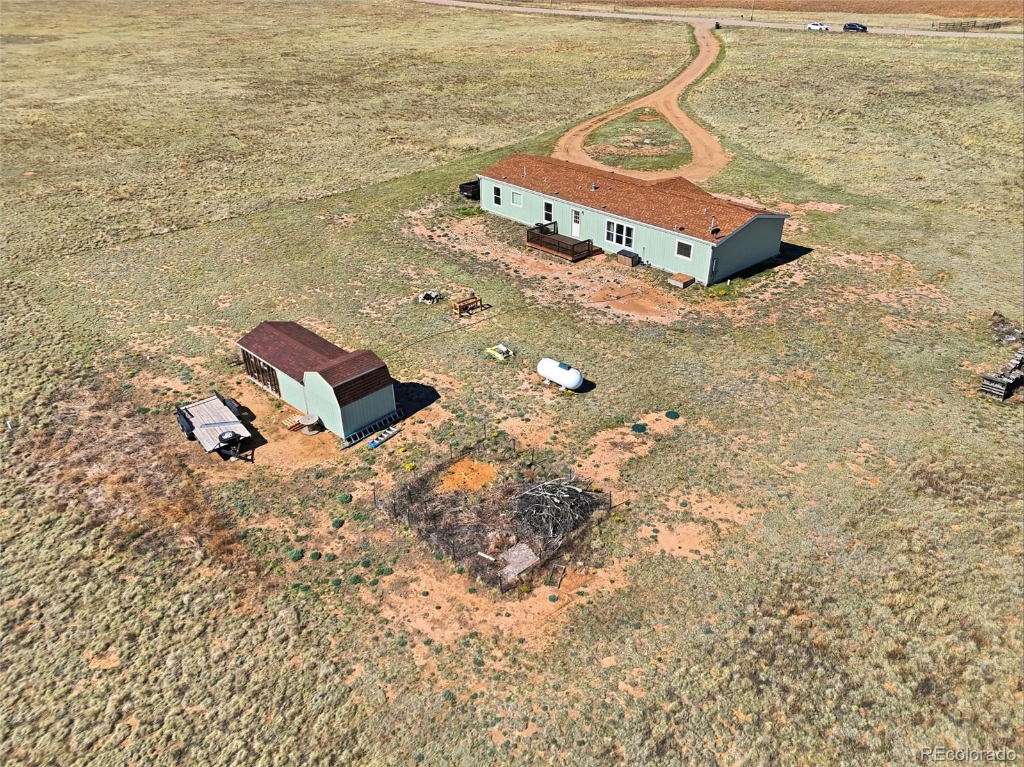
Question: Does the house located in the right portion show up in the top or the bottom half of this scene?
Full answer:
The top half of the photo is where the house located in the right portion is.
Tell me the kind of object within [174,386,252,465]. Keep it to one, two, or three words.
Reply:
trailer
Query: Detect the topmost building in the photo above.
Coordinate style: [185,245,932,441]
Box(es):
[473,153,791,285]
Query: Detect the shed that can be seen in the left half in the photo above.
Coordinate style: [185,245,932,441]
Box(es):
[235,320,397,437]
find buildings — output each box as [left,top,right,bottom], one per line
[235,320,397,437]
[473,153,791,285]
